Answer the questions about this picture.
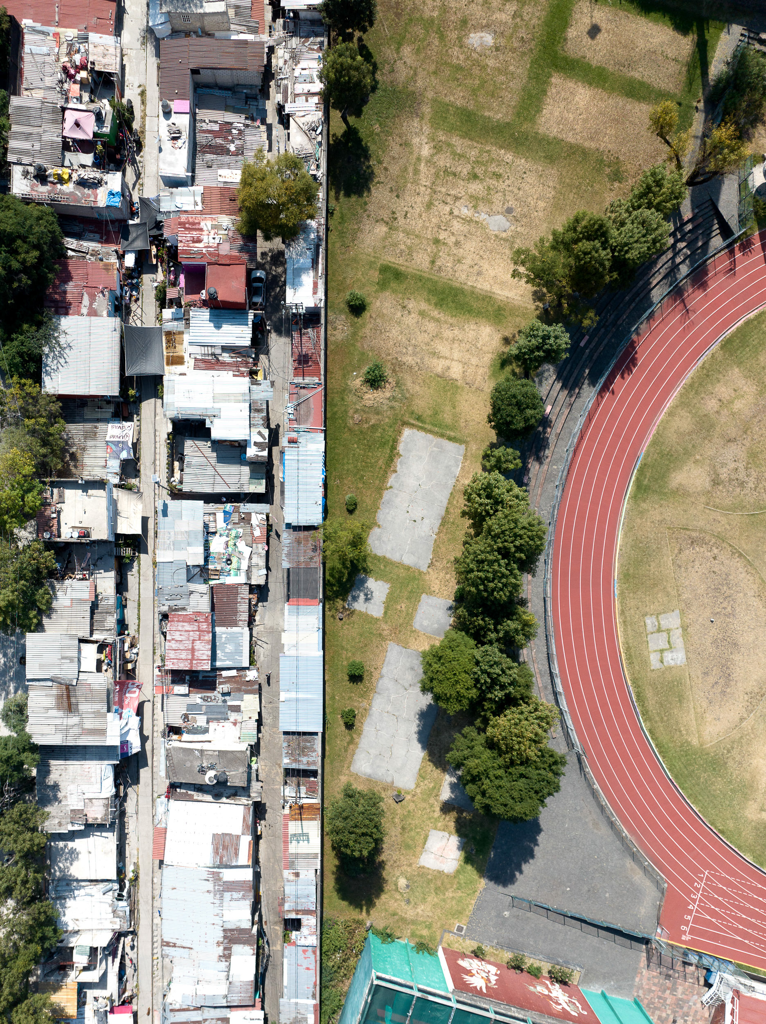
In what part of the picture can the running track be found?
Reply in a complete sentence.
The running track sits in the right section of the image.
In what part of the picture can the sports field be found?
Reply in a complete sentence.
Look in the right portion of the view to spot the sports field.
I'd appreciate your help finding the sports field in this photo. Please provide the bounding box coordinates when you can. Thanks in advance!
[617,311,766,873]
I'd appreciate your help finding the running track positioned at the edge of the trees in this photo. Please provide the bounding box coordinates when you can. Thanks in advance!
[548,237,766,972]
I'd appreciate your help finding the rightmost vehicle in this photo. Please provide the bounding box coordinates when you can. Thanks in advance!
[249,270,266,310]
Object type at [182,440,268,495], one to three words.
house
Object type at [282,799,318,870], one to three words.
house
